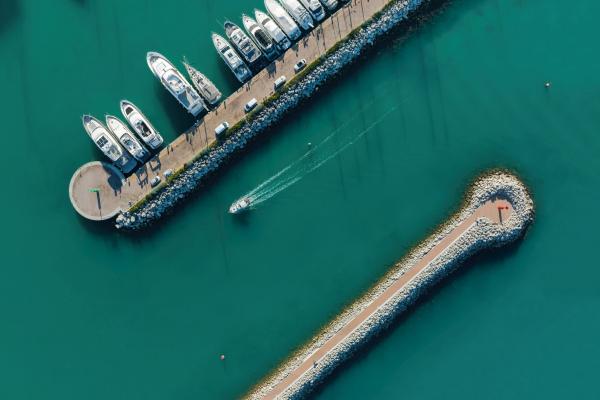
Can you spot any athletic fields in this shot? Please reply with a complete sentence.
No, the photo shows no athletic field.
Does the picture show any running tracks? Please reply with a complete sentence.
No, there appears to be no running track in this shot.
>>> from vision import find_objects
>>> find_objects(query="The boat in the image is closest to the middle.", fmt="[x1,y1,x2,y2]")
[230,198,251,212]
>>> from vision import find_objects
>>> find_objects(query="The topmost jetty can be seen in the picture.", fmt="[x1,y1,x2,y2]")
[69,0,441,241]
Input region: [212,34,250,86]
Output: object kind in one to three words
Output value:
boat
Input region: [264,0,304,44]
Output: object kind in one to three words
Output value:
boat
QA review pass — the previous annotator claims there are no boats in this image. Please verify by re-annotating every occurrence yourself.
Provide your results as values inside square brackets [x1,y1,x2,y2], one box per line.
[318,0,341,14]
[104,114,150,168]
[230,198,251,212]
[146,52,210,121]
[81,114,133,170]
[278,0,317,35]
[243,15,280,64]
[264,0,304,44]
[254,9,293,52]
[212,34,250,86]
[225,21,263,64]
[180,57,222,106]
[295,0,327,25]
[119,101,166,152]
